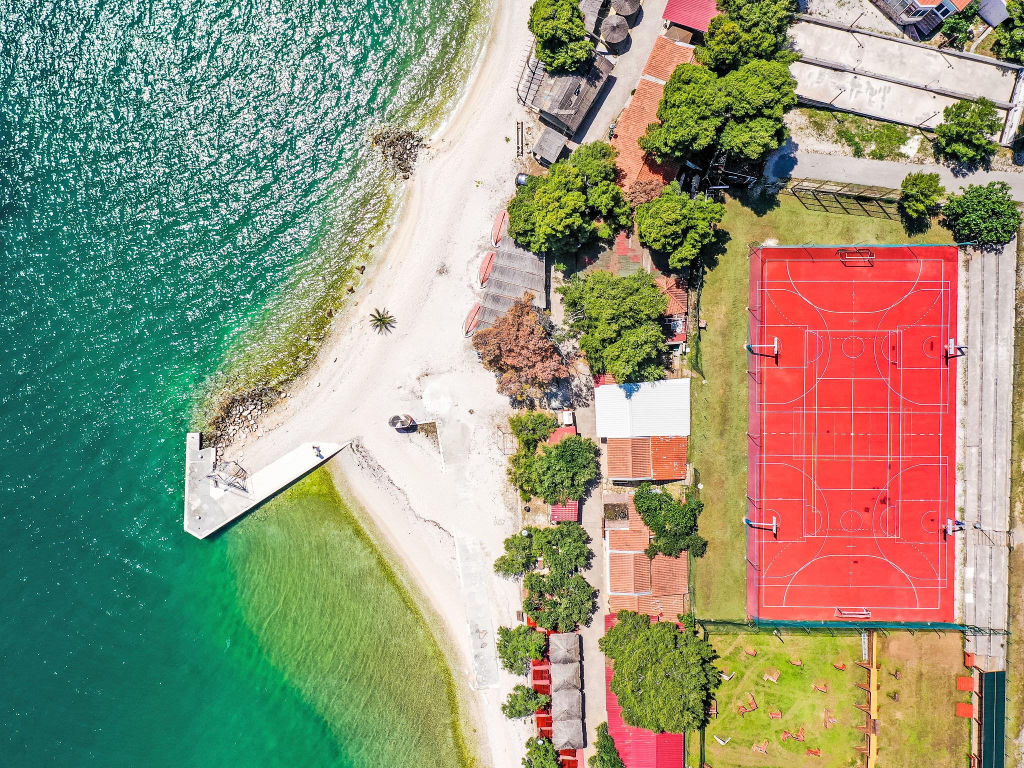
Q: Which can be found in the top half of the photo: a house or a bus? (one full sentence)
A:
The one visible in the top half of the photo is a house.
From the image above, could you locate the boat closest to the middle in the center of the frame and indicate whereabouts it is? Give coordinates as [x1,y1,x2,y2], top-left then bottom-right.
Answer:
[462,301,483,338]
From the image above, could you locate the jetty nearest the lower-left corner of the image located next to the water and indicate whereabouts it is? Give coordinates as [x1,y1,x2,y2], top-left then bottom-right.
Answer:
[184,432,352,539]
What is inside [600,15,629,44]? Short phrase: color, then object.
gray umbrella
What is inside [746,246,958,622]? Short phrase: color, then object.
red sports court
